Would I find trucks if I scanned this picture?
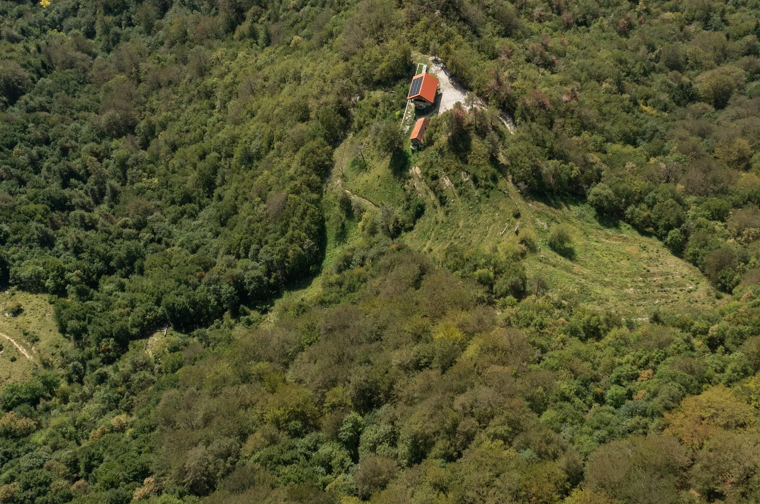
No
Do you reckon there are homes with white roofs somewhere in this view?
No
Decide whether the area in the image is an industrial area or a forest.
forest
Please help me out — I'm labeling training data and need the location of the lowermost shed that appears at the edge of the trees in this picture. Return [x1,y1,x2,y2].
[410,117,429,147]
